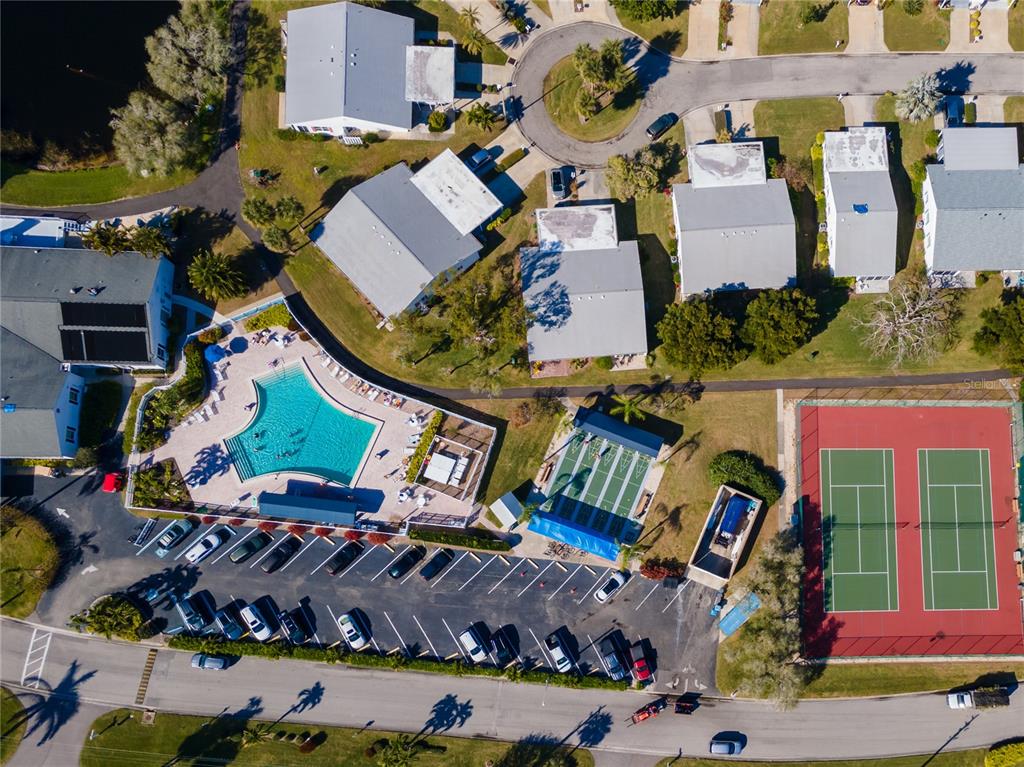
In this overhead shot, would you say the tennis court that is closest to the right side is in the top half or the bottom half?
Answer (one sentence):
It is in the bottom half that the tennis court that is closest to the right side appears.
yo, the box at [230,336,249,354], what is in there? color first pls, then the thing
blue umbrella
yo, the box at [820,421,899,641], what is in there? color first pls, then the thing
green tennis court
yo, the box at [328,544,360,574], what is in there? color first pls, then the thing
black car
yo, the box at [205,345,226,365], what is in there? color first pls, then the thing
blue umbrella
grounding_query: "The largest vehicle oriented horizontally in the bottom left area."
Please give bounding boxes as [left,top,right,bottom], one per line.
[191,653,228,670]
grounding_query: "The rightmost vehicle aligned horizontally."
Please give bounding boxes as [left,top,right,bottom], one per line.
[950,688,1016,714]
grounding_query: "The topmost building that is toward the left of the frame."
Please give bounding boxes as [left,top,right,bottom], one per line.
[286,0,455,137]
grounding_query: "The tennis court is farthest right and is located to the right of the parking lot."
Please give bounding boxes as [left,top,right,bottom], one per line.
[917,421,999,640]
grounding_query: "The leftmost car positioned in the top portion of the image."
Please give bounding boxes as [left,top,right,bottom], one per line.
[464,148,491,173]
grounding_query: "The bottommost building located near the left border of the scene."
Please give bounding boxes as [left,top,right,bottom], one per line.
[0,245,171,456]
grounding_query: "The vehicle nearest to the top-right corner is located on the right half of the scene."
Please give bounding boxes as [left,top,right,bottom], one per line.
[946,95,963,128]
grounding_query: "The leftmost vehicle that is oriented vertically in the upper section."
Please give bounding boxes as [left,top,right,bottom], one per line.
[551,170,565,200]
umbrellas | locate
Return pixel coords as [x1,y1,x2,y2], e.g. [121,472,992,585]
[205,345,226,365]
[222,323,234,333]
[230,336,249,354]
